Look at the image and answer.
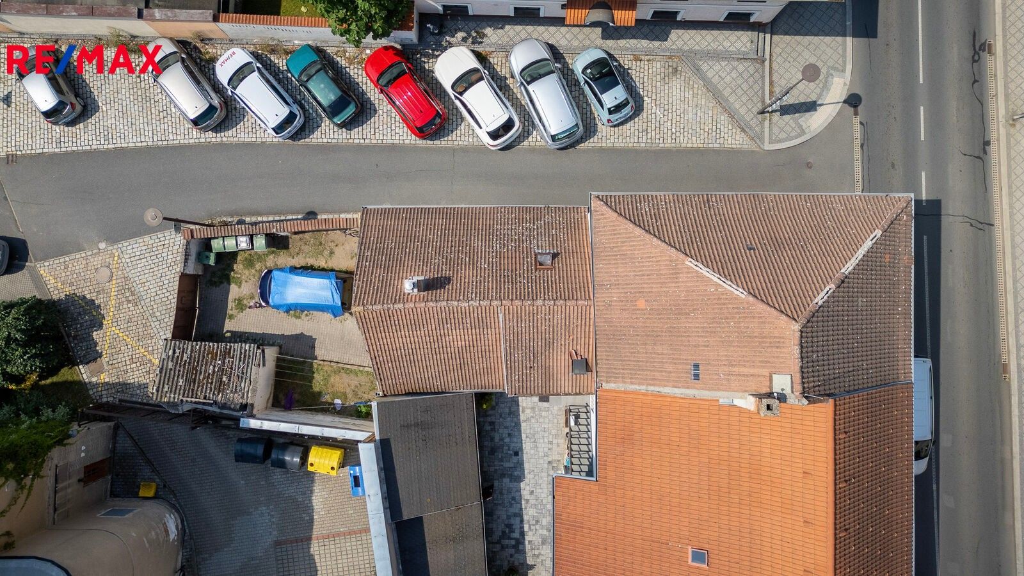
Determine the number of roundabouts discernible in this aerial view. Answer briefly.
none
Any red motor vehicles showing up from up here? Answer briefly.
Yes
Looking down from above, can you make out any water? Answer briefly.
No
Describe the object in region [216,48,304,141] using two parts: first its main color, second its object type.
white car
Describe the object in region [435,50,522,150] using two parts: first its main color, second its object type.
white car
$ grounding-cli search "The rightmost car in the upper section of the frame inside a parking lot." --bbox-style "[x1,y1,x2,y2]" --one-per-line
[571,49,636,127]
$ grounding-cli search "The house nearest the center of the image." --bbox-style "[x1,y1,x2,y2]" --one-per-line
[351,203,596,398]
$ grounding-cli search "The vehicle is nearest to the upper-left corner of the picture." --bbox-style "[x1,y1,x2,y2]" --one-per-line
[10,44,86,129]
